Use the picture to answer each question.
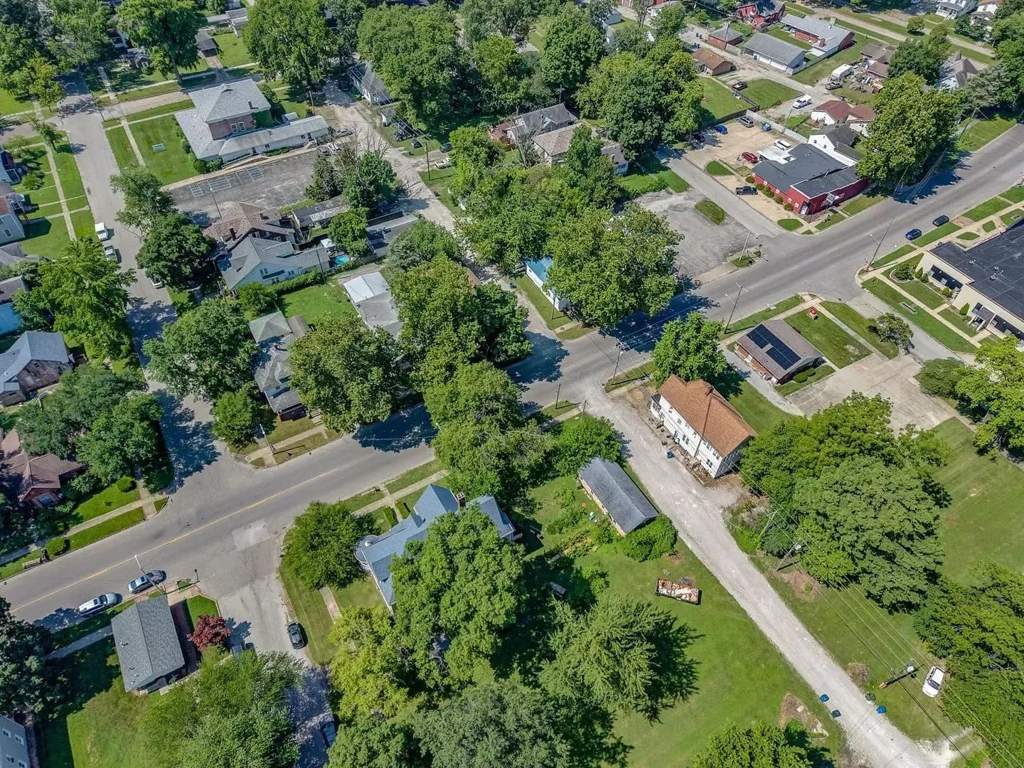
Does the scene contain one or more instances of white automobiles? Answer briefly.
Yes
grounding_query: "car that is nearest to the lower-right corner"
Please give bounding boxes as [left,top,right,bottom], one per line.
[917,660,949,699]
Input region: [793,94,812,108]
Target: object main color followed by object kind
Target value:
white vehicle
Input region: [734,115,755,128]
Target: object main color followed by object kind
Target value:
gray vehicle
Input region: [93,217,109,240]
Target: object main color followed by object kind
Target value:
white vehicle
